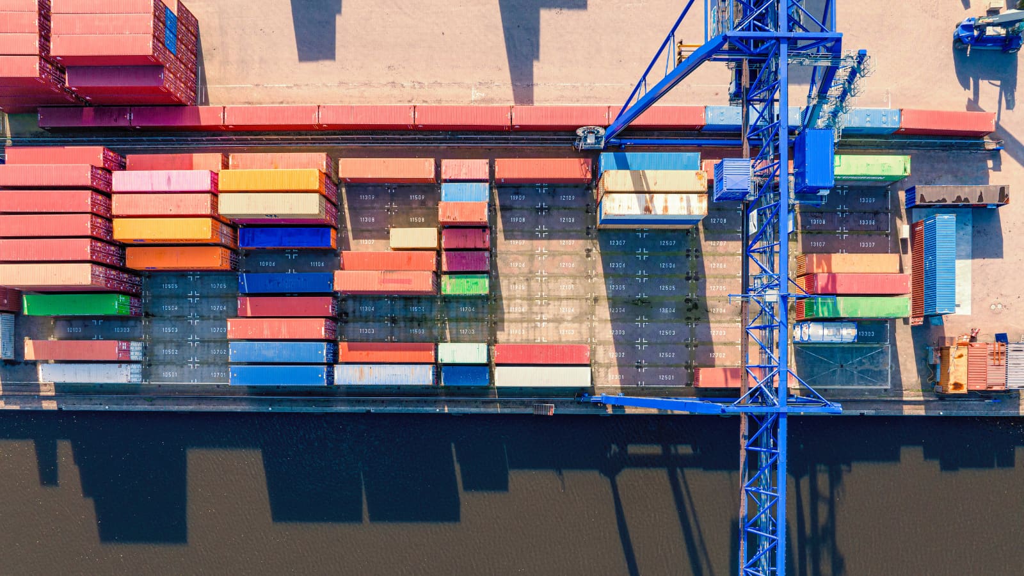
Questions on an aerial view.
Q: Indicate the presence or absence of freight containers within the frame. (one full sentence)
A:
Yes, there's a freight container down there.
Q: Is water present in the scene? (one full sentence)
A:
Yes, water shows up in the scene.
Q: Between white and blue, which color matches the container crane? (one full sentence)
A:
The color of the container crane is blue.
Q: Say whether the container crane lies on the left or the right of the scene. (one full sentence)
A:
You can find the container crane on the right side of the picture.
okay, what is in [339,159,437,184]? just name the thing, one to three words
shipping container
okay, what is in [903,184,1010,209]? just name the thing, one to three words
shipping container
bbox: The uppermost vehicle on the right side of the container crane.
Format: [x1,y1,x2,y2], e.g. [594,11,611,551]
[950,5,1024,60]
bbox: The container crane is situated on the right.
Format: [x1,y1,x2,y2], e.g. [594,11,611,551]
[572,0,893,576]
